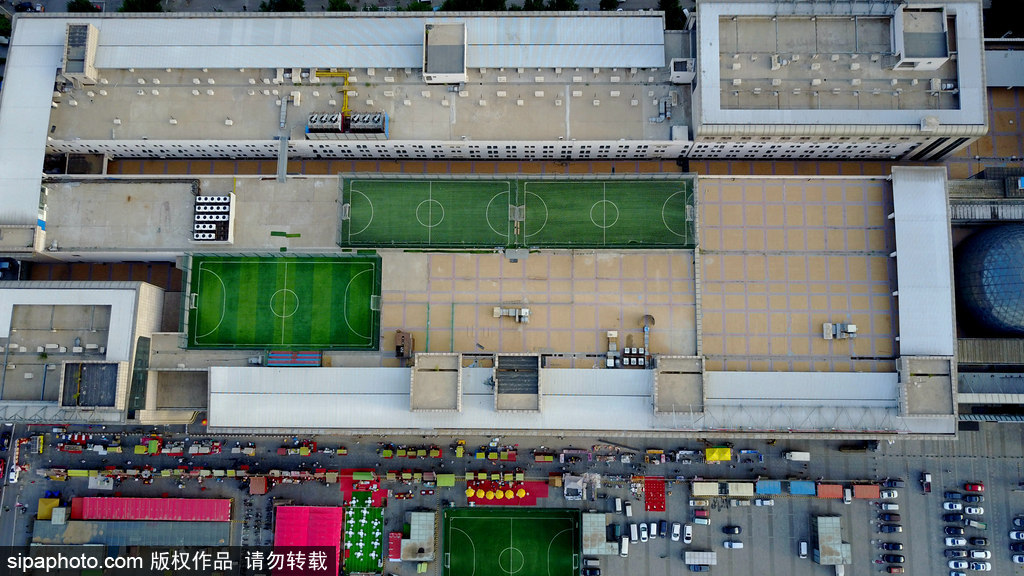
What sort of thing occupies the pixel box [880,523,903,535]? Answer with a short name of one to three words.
vehicle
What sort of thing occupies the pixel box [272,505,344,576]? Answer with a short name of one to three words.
tent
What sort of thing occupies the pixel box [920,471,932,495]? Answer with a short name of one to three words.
vehicle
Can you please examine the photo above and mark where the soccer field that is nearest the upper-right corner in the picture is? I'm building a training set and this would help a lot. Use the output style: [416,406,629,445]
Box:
[515,179,694,244]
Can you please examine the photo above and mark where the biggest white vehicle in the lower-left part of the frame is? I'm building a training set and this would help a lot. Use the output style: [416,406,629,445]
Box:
[7,464,20,484]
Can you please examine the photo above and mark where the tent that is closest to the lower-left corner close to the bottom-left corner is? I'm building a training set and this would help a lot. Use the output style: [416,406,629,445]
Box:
[37,497,61,519]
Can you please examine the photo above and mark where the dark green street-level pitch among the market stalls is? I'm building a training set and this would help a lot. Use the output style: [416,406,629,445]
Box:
[444,510,580,576]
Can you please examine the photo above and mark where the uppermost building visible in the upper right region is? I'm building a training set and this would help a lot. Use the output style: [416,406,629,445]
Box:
[681,0,989,157]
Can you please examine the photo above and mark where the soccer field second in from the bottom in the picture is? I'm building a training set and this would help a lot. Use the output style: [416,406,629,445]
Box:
[187,256,377,348]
